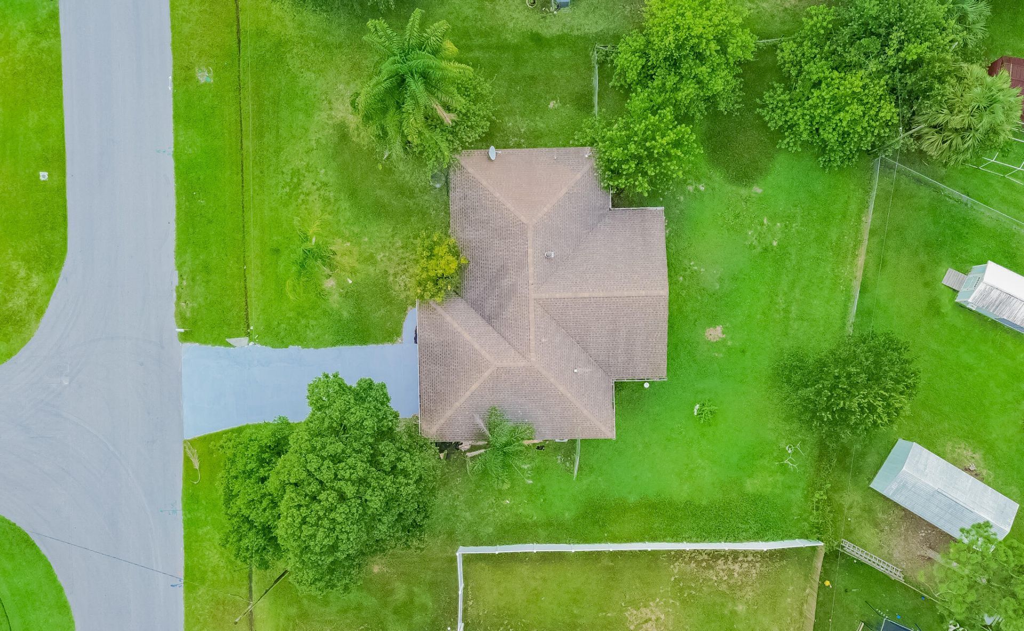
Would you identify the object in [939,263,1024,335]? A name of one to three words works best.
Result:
shed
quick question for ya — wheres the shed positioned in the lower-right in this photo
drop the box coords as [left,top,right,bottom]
[869,438,1018,555]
